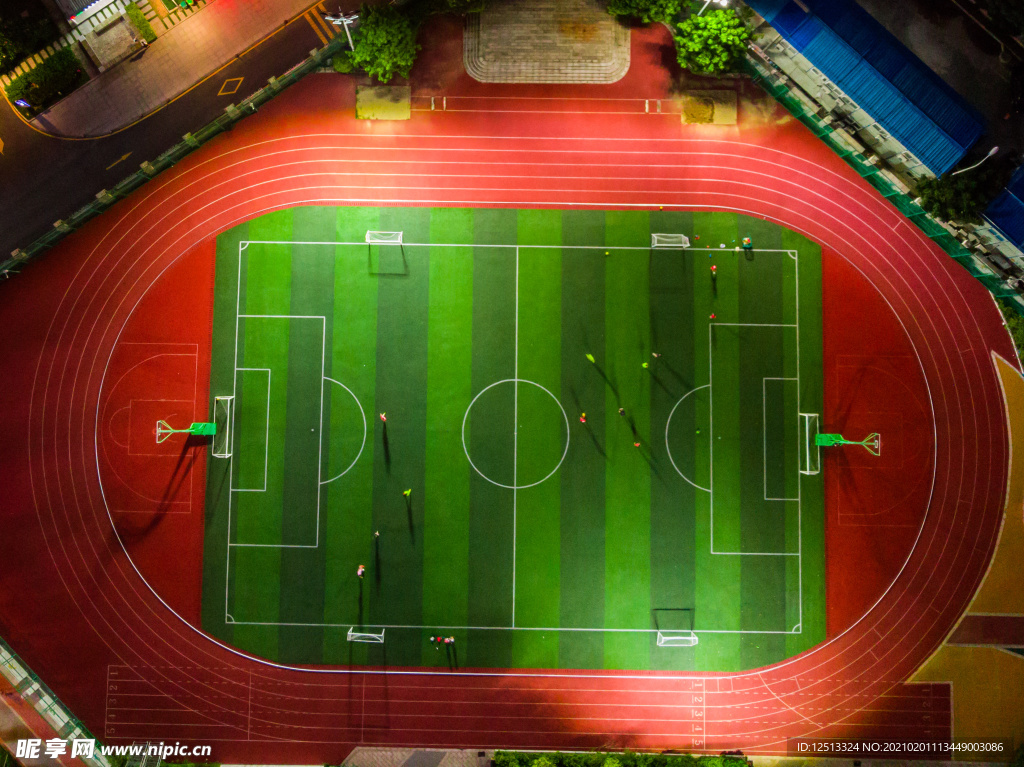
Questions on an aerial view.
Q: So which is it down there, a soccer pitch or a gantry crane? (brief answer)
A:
soccer pitch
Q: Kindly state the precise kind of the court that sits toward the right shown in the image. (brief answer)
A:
basketball court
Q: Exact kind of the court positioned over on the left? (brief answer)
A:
basketball court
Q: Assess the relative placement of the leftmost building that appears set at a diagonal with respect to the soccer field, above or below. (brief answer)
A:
above it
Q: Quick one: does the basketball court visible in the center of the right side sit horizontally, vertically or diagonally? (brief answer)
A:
vertically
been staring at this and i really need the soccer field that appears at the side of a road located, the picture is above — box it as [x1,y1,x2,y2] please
[201,208,826,669]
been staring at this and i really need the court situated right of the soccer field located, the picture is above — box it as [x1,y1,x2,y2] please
[821,239,935,645]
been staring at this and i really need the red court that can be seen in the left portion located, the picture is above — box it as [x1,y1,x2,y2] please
[97,232,217,633]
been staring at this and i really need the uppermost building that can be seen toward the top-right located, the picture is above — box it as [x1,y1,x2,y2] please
[715,0,989,186]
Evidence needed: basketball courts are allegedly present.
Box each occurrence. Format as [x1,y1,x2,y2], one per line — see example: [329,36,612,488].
[97,232,217,633]
[821,239,935,645]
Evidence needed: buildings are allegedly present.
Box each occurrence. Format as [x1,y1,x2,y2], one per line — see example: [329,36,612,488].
[715,0,989,186]
[958,180,1024,283]
[58,0,119,25]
